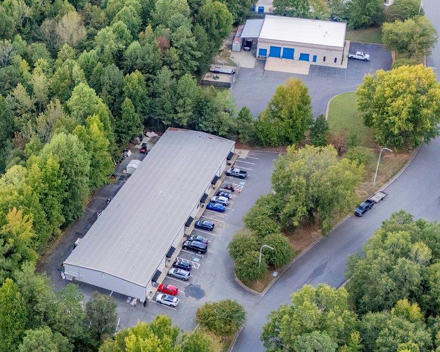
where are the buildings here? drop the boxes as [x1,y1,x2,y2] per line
[63,126,239,304]
[257,16,346,65]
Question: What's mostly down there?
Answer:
trees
